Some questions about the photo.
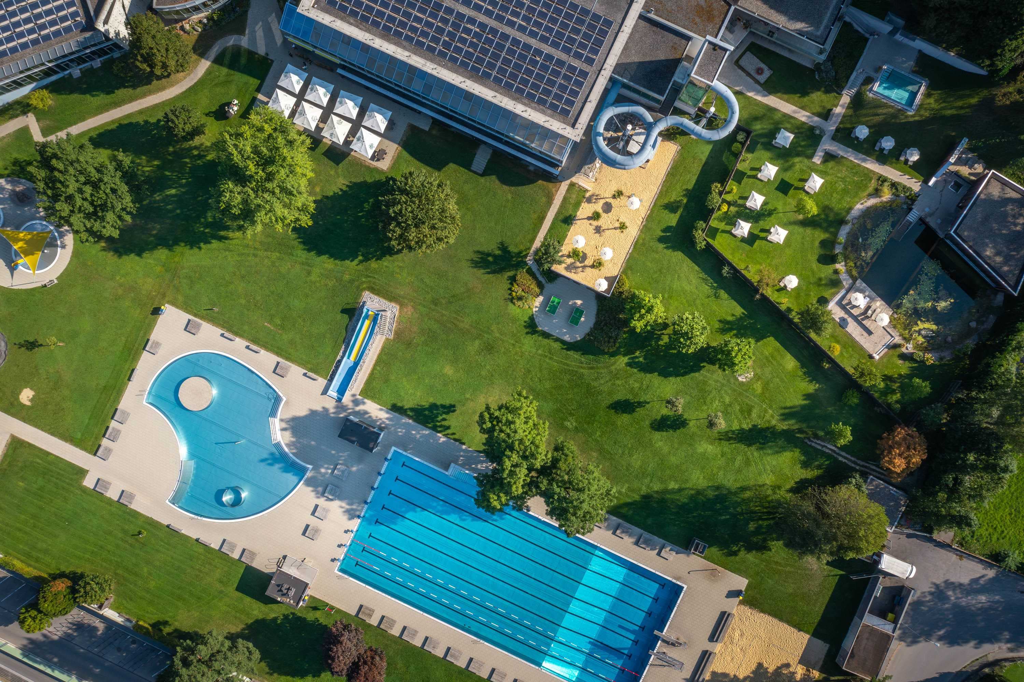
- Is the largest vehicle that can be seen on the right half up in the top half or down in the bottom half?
bottom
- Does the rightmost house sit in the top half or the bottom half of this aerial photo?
top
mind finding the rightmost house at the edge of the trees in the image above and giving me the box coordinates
[936,170,1024,296]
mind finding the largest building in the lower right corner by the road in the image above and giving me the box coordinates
[835,571,914,680]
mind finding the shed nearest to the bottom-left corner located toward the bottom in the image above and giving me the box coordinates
[266,554,319,609]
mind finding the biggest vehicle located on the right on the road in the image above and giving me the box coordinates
[873,552,914,579]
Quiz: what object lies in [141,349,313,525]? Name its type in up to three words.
swimming pool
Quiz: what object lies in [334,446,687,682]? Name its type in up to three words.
swimming pool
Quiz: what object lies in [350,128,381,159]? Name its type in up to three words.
umbrella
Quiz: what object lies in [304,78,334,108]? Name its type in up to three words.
umbrella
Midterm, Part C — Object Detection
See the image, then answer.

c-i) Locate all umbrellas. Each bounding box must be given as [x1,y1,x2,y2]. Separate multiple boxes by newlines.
[304,78,334,108]
[350,128,381,159]
[278,65,308,94]
[363,104,392,134]
[334,91,363,120]
[572,235,585,248]
[322,115,352,145]
[627,197,640,209]
[731,219,751,239]
[768,224,788,244]
[774,129,794,148]
[600,247,612,259]
[268,89,298,119]
[745,191,765,211]
[803,174,823,193]
[876,314,889,326]
[595,278,608,291]
[905,148,921,161]
[757,162,776,181]
[293,101,323,131]
[881,137,894,150]
[782,276,796,289]
[855,125,868,139]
